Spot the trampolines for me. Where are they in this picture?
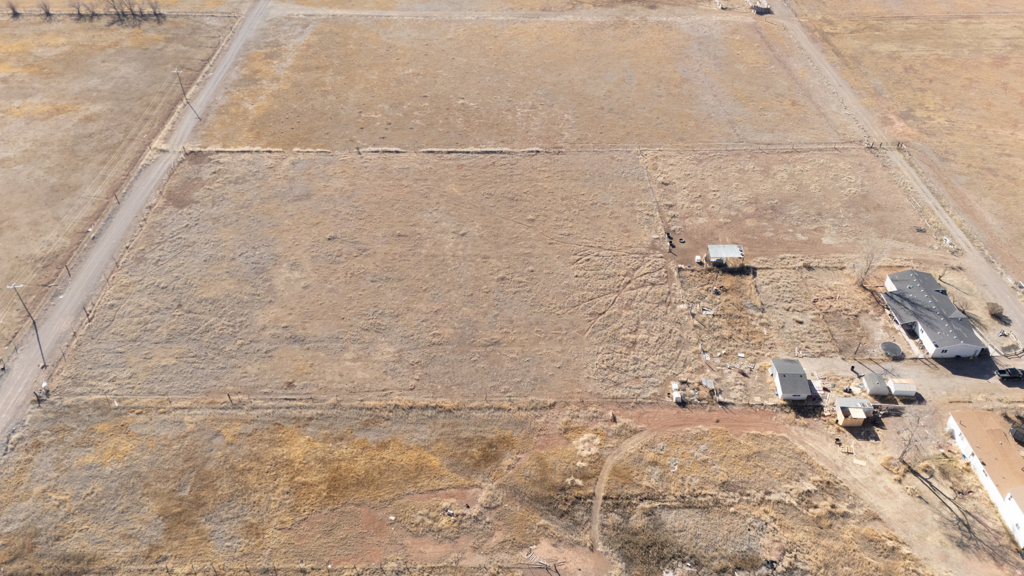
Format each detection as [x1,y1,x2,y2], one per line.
[1006,419,1024,448]
[878,340,903,359]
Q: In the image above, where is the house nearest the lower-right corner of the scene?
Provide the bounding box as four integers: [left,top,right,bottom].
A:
[944,409,1024,551]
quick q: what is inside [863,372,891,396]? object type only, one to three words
shed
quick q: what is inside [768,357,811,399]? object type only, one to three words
shed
